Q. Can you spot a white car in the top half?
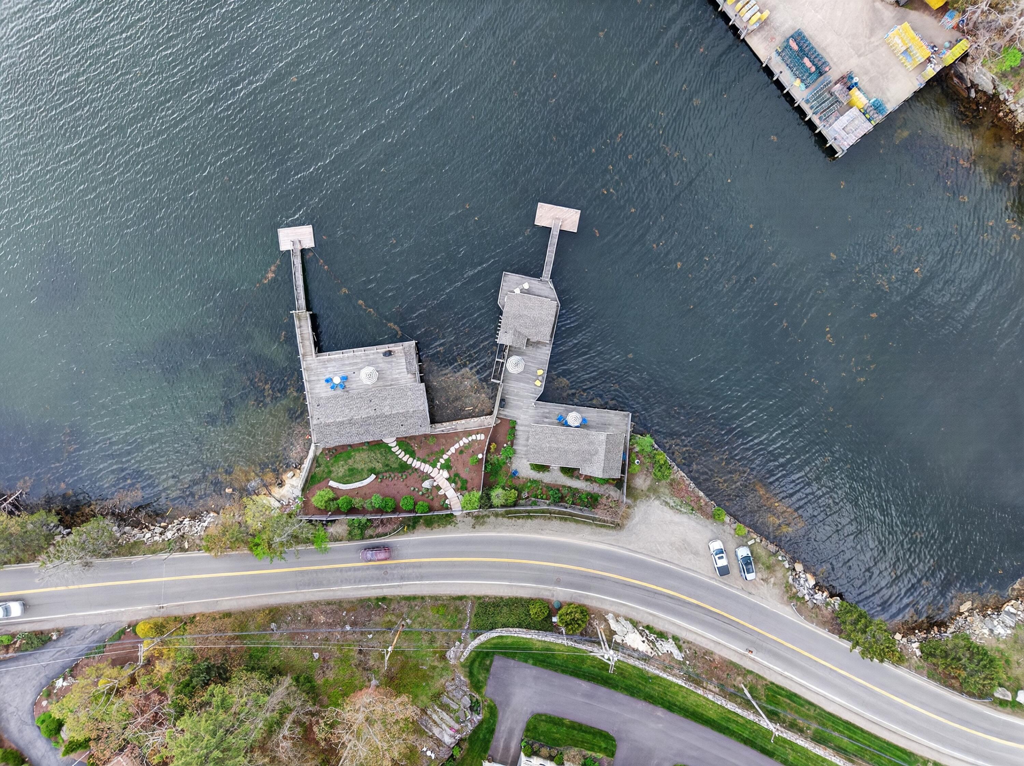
No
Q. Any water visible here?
Yes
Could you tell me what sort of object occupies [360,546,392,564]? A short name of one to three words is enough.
car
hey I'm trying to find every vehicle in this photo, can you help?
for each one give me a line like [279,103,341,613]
[709,540,732,579]
[0,602,22,619]
[360,546,392,564]
[737,546,760,584]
